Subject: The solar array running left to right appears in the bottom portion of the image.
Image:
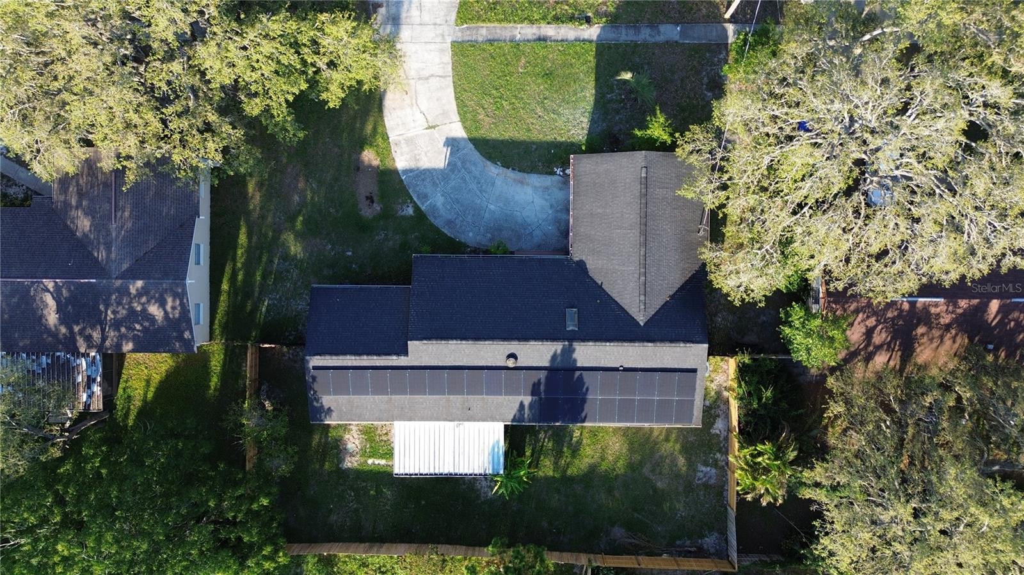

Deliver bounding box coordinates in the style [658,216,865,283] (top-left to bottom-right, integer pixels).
[312,371,697,425]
